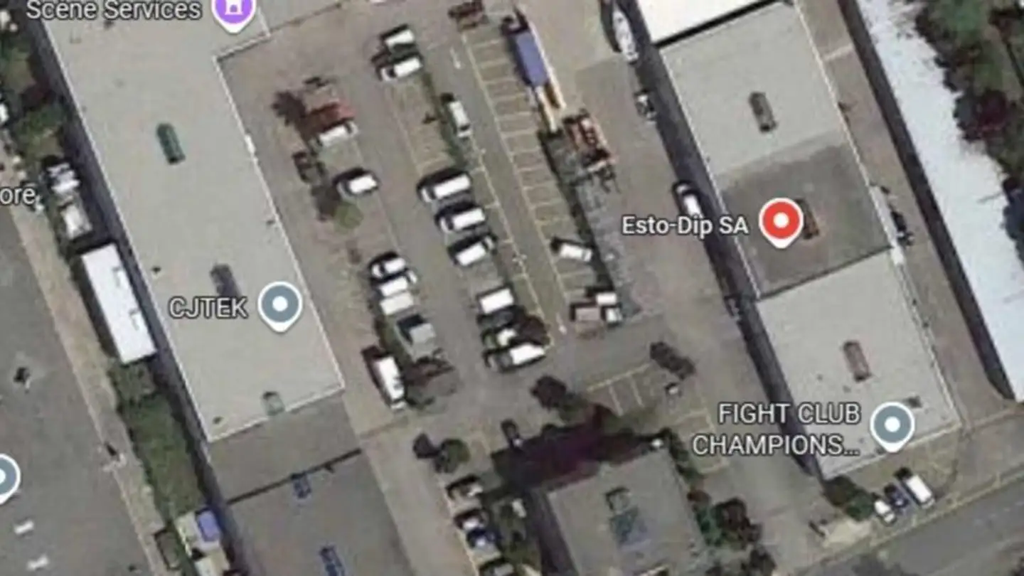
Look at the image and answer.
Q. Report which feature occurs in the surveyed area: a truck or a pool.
truck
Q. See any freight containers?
Yes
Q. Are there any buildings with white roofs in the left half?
Yes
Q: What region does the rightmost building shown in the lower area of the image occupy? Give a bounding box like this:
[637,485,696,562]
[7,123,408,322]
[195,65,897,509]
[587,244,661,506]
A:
[756,245,970,479]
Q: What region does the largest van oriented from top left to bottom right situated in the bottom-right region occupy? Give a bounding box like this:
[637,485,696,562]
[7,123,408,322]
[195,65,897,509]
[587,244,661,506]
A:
[895,464,936,512]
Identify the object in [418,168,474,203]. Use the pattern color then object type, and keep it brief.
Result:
white van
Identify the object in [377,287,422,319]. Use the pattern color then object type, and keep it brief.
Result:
white camper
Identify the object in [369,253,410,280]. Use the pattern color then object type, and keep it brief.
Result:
white car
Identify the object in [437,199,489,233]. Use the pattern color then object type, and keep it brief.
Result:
white van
